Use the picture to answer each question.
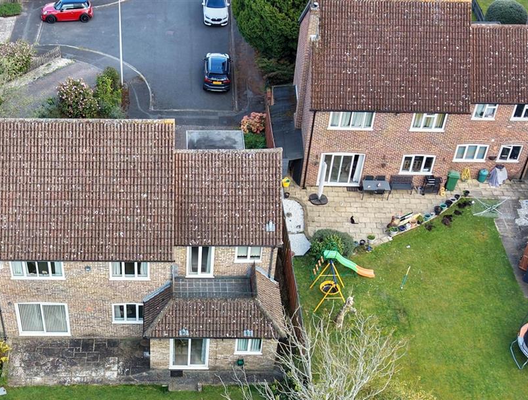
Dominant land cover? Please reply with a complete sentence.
Most of the picture is covered by buildings.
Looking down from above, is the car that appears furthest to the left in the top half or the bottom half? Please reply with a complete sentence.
The car that appears furthest to the left is in the top half of the image.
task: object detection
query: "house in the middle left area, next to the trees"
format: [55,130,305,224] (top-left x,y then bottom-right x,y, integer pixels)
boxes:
[0,114,287,368]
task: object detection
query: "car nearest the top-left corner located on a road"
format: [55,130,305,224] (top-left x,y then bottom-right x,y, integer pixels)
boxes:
[39,0,96,26]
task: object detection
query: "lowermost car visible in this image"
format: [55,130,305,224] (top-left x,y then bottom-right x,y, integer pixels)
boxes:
[199,49,234,91]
